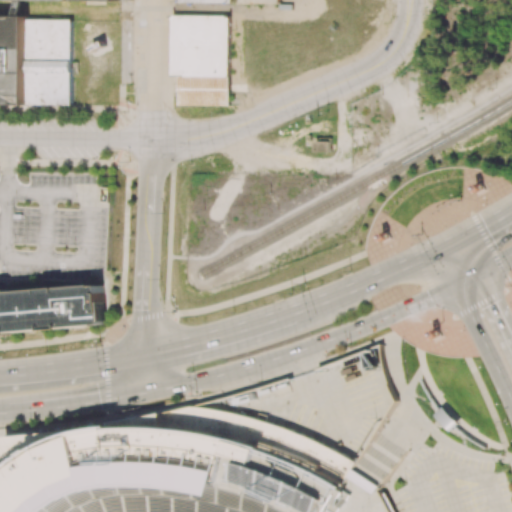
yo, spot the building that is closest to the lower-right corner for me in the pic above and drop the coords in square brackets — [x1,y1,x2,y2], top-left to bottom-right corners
[434,408,458,433]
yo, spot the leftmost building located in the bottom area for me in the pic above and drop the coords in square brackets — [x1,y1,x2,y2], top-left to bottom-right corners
[0,285,108,332]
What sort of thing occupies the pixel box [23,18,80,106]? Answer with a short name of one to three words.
building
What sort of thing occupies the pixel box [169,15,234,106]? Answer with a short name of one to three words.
building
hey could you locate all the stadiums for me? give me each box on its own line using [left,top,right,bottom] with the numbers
[0,424,348,512]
